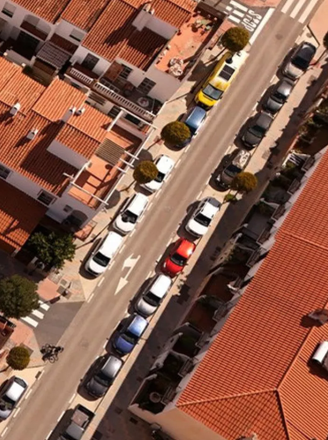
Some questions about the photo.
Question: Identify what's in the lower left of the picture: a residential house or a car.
car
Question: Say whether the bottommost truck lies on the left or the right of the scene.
left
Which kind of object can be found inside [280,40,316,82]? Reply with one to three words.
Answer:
car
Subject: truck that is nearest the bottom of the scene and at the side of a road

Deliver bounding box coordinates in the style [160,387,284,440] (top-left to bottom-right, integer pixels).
[51,402,95,440]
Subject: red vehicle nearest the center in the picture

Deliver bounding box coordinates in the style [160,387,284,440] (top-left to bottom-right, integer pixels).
[161,237,196,280]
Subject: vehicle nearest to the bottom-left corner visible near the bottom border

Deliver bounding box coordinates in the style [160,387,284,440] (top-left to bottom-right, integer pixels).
[0,373,27,425]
